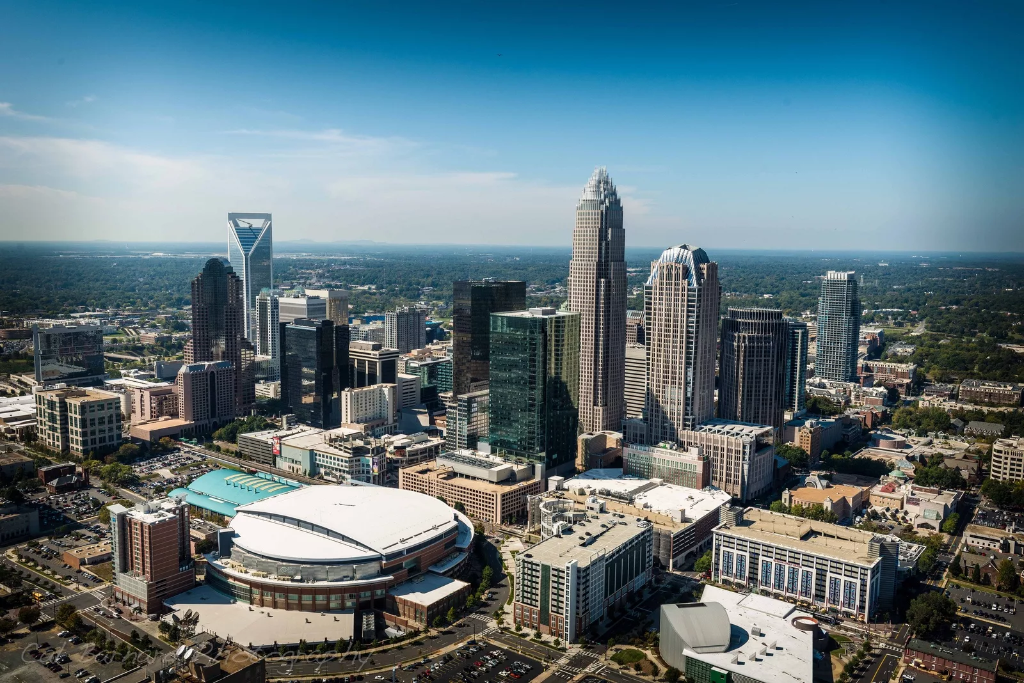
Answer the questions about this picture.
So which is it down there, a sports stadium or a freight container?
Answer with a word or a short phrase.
sports stadium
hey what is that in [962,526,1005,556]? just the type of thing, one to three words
building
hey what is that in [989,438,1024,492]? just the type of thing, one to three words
building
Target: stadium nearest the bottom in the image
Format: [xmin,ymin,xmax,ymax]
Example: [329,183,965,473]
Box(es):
[200,486,476,622]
